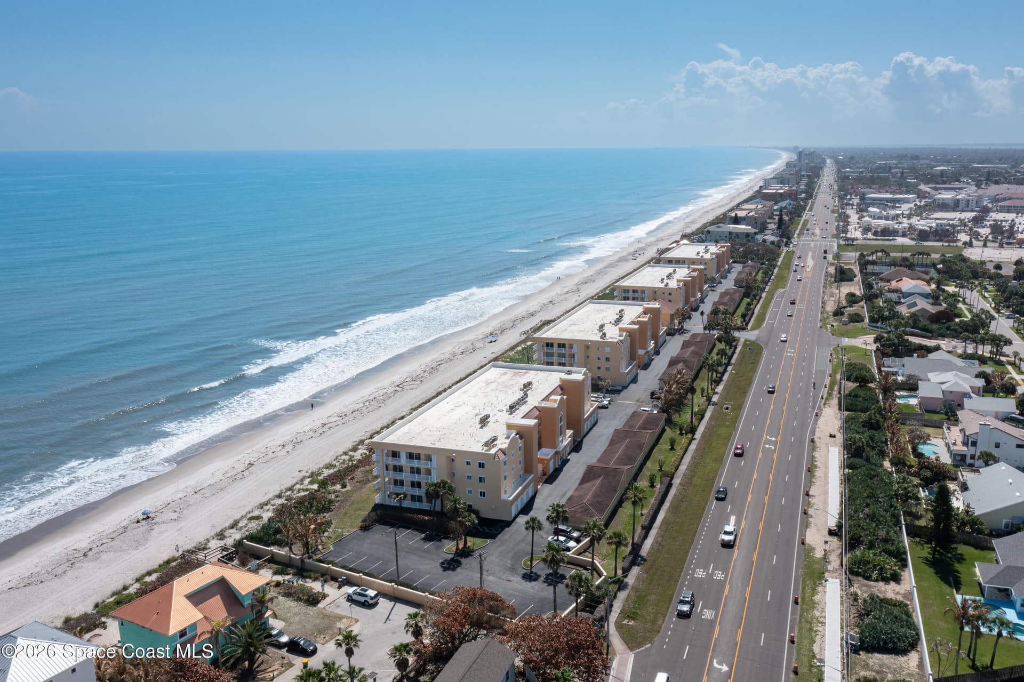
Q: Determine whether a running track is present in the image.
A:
No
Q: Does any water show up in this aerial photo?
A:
Yes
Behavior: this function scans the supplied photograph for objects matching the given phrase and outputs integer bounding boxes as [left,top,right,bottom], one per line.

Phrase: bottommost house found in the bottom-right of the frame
[974,537,1024,617]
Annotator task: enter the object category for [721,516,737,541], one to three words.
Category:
vehicle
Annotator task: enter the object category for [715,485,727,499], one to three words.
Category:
vehicle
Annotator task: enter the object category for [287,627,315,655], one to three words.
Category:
car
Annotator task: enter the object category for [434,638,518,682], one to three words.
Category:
house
